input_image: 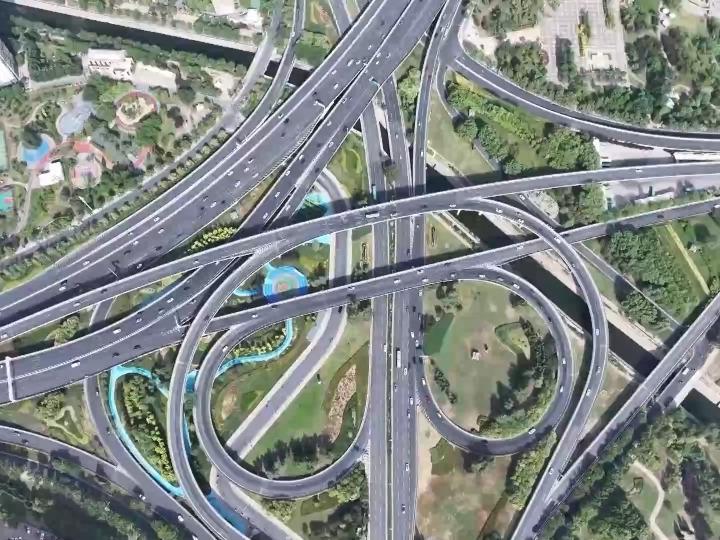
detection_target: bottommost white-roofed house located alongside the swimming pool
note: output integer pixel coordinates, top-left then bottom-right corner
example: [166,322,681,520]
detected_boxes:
[39,162,68,188]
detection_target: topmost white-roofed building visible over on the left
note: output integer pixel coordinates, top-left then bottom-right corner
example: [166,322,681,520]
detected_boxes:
[231,7,263,33]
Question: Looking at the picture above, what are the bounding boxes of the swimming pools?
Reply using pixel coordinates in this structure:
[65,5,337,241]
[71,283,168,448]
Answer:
[20,134,52,168]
